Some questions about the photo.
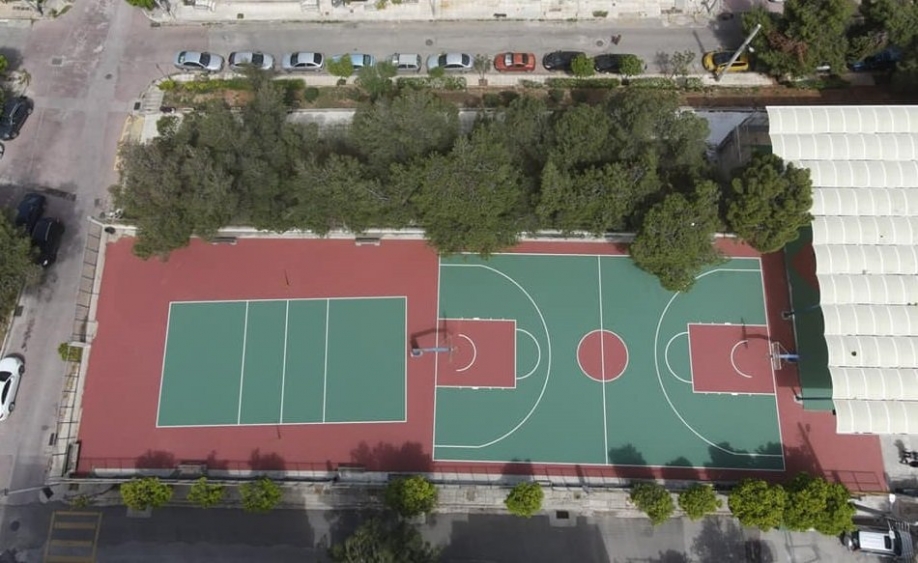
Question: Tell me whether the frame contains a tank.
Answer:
No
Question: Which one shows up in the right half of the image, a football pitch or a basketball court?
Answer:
basketball court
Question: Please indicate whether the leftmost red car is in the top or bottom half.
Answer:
top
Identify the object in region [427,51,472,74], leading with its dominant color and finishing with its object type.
gray car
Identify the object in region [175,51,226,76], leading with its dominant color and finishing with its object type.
gray car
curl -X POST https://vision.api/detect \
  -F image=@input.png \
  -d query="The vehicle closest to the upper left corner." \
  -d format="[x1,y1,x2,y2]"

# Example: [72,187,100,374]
[0,98,36,143]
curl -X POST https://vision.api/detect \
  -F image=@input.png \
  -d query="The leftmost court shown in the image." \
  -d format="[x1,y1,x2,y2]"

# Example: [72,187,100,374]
[156,297,407,427]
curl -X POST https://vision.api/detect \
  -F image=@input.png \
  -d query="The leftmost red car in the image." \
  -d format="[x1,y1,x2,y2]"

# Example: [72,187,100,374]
[493,53,535,74]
